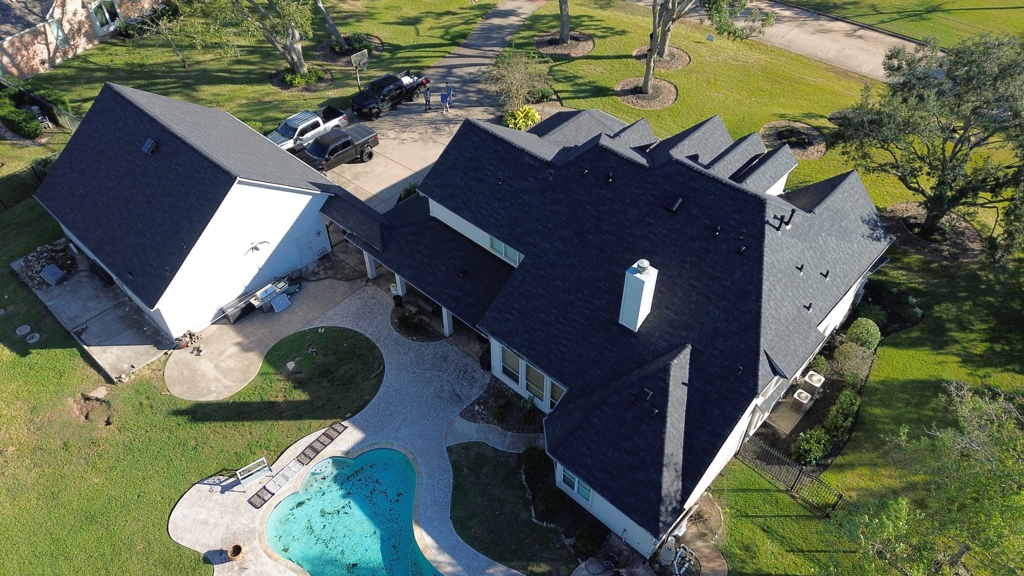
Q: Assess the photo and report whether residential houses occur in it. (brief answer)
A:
Yes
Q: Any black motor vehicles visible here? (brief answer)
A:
Yes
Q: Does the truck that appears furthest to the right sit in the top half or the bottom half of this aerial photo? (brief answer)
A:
top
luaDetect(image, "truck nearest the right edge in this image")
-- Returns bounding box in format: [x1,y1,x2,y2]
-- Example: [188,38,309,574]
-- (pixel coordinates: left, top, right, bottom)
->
[346,71,432,122]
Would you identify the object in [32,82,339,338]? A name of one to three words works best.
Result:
building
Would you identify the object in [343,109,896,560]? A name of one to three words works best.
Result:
house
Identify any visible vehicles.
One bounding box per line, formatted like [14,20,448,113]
[263,103,358,157]
[346,71,432,122]
[292,122,387,180]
